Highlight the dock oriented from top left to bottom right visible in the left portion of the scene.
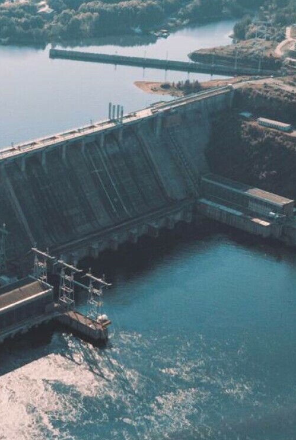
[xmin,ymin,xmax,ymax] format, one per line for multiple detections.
[49,291,117,339]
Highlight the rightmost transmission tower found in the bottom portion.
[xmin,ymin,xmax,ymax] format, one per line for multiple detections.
[86,266,111,322]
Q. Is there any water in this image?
Yes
